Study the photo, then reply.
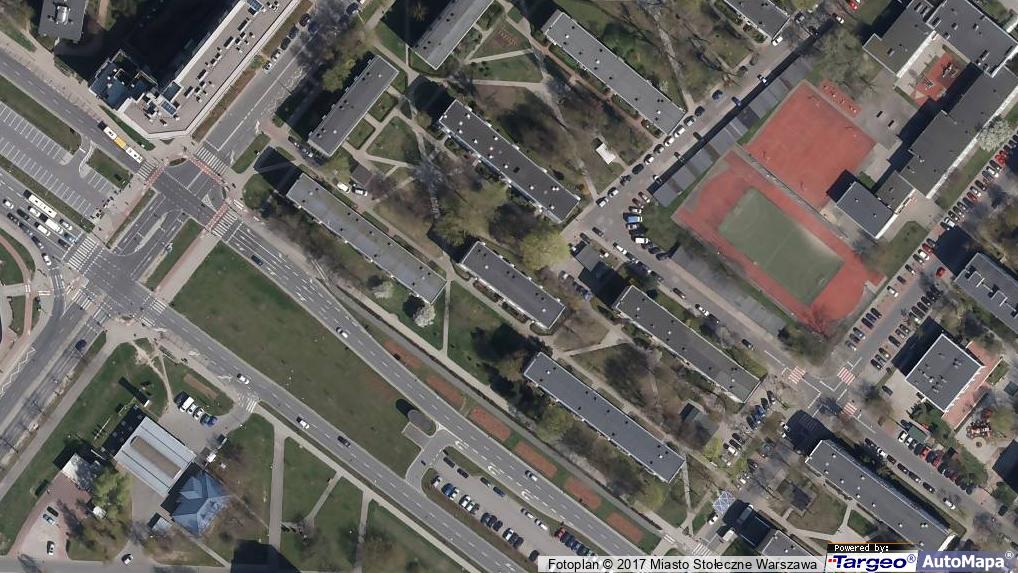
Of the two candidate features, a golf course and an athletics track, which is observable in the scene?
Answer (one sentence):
Looking from above, you can make out an athletics track.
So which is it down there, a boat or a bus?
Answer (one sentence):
The one in the frame is a bus.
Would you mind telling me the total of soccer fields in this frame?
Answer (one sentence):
I count just 1 soccer field.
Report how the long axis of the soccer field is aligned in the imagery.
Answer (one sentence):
Seen from above, the soccer field lies on a diagonal.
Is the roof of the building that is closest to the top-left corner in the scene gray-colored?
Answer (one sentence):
Yes, the roof of the building that is closest to the top-left corner is gray.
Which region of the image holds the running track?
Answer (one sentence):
You can find the running track in the right area of the picture.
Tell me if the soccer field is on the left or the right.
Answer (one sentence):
It is on the right.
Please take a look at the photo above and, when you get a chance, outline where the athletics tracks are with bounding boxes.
[672,151,888,339]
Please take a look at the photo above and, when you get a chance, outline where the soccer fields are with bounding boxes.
[719,188,843,303]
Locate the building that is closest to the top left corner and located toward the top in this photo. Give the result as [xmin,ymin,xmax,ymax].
[39,0,87,42]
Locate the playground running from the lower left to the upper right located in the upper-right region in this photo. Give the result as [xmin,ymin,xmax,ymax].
[913,45,965,105]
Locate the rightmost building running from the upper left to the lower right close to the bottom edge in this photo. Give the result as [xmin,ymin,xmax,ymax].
[805,441,947,558]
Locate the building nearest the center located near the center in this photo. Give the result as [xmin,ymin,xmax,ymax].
[461,241,567,329]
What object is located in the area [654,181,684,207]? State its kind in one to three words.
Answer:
building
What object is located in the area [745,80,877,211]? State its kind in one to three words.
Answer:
sports court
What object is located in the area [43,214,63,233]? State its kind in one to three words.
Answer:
vehicle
